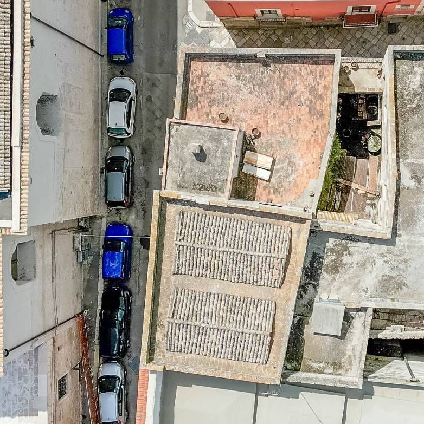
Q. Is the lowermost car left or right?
left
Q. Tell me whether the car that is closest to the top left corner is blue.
Yes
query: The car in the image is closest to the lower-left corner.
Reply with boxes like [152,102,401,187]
[97,360,128,424]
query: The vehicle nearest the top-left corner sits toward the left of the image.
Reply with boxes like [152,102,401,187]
[103,7,135,65]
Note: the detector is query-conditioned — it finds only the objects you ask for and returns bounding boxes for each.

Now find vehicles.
[103,7,135,65]
[97,360,128,424]
[101,145,135,209]
[98,222,131,282]
[102,76,136,139]
[95,286,131,360]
